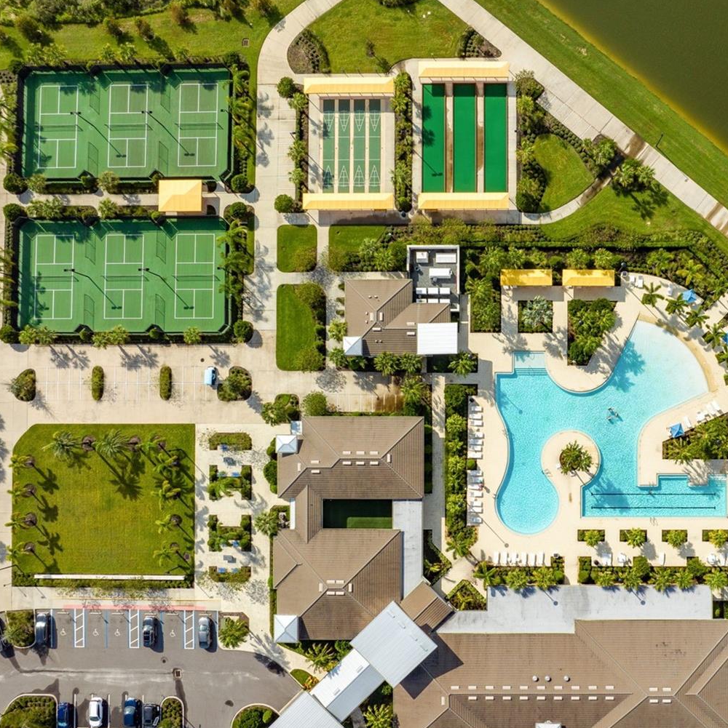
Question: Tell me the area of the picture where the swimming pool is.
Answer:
right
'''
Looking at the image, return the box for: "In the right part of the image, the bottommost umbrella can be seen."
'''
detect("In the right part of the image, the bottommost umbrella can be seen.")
[670,423,684,437]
